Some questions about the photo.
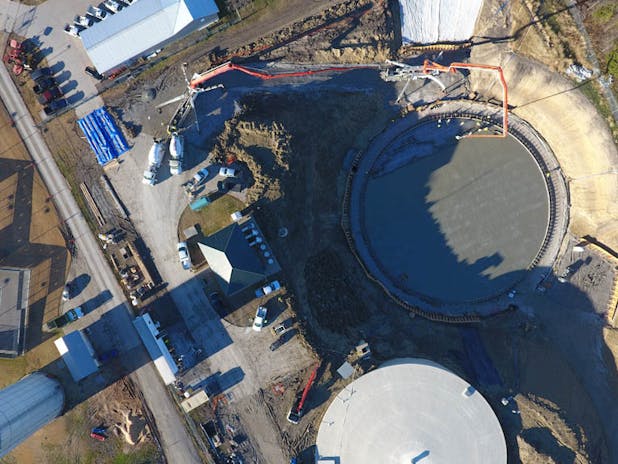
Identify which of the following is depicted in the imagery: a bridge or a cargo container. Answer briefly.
cargo container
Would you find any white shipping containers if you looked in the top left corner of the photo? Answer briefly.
No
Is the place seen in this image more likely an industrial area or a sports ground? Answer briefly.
industrial area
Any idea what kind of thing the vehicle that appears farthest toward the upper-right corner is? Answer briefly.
truck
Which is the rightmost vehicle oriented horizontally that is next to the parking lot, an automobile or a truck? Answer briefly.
truck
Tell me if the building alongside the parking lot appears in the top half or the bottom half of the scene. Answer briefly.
top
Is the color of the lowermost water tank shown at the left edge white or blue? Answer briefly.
blue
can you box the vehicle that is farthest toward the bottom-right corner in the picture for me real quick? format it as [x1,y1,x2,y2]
[558,270,573,285]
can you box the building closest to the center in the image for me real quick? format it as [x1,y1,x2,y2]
[198,221,268,297]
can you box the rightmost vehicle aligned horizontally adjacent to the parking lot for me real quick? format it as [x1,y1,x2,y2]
[153,60,384,136]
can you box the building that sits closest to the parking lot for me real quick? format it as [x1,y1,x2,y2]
[77,0,218,81]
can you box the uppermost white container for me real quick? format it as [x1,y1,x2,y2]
[181,385,212,413]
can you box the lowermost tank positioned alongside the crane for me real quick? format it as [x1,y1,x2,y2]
[317,352,507,464]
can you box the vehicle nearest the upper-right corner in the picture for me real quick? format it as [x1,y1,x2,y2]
[387,49,509,140]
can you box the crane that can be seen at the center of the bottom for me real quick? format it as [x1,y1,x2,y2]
[287,364,318,425]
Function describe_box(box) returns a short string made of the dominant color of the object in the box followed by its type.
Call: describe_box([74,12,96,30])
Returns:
white vehicle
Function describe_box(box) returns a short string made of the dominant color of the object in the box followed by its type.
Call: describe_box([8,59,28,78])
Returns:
red work vehicle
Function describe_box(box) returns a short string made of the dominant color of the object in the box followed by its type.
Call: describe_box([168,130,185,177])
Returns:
white vehicle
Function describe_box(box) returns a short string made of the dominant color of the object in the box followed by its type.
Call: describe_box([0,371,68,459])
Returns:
blue water tank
